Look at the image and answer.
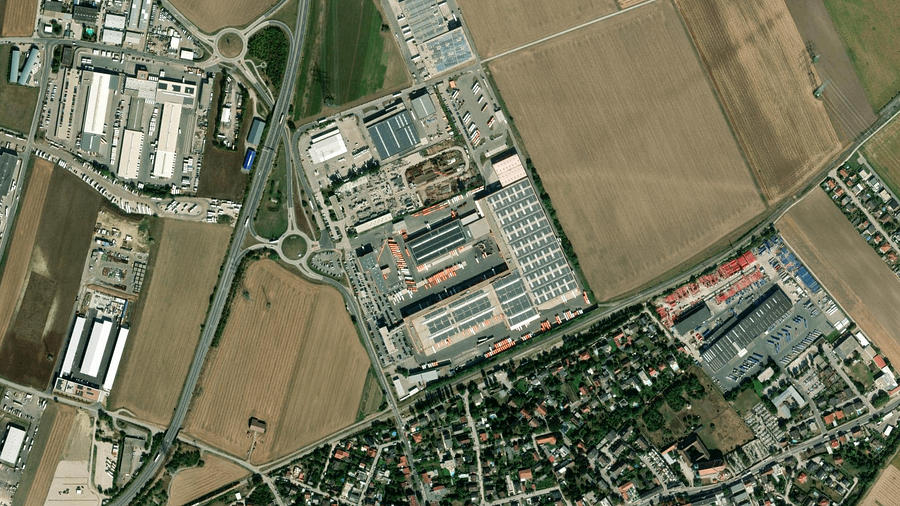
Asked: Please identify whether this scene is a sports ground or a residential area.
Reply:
residential area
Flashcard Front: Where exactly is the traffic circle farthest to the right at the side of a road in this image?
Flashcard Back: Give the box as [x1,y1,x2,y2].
[279,230,309,261]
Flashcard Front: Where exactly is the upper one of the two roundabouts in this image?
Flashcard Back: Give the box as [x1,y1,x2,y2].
[214,28,247,61]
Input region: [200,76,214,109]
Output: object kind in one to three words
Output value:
building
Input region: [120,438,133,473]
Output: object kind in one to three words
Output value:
building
